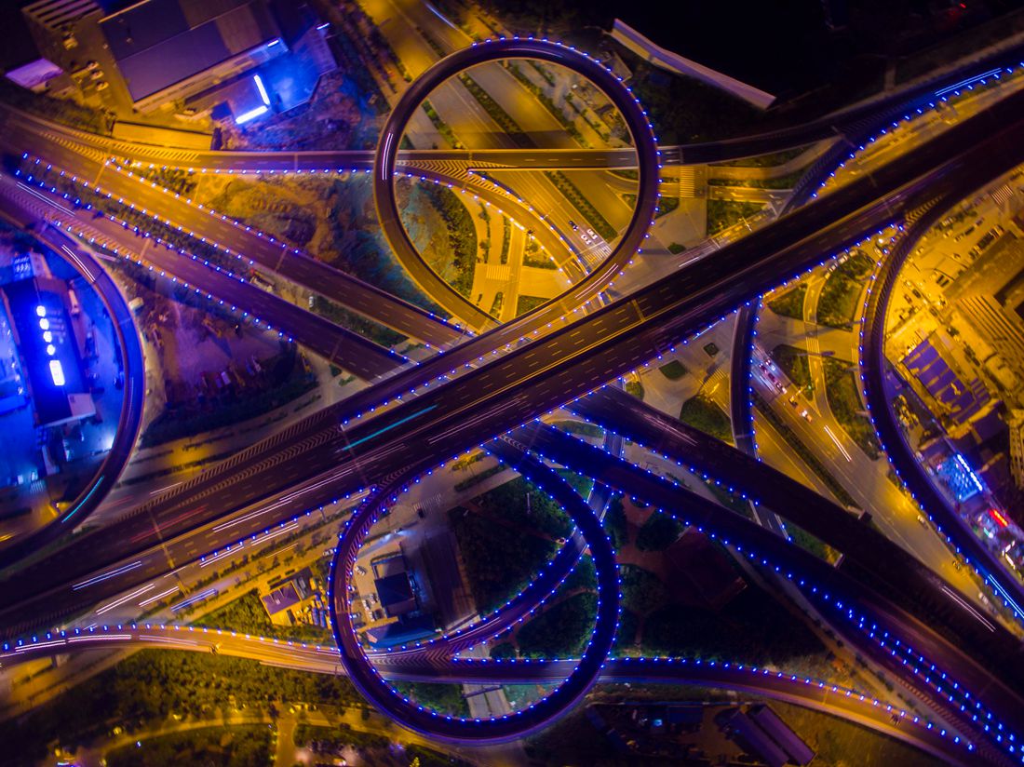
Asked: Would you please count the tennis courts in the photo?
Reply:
0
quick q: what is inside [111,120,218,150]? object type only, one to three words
building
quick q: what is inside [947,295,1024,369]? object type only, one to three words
building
